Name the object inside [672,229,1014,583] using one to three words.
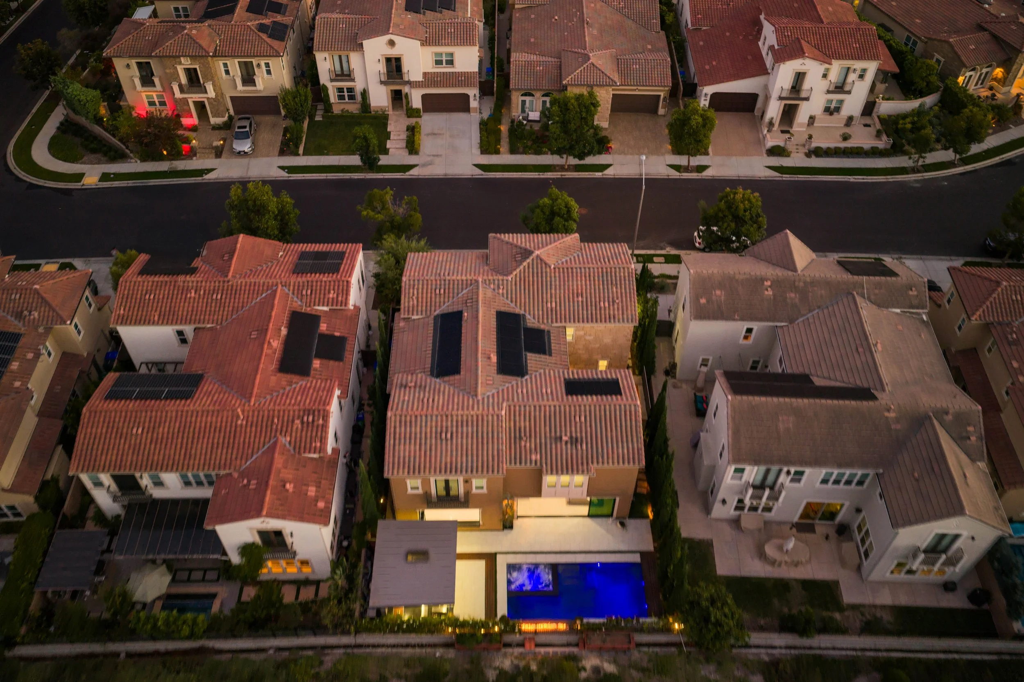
house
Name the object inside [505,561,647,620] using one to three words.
swimming pool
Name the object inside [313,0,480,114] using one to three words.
house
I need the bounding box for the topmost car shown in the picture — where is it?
[229,112,254,149]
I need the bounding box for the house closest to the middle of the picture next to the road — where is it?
[382,232,646,529]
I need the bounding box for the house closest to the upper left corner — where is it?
[102,0,323,120]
